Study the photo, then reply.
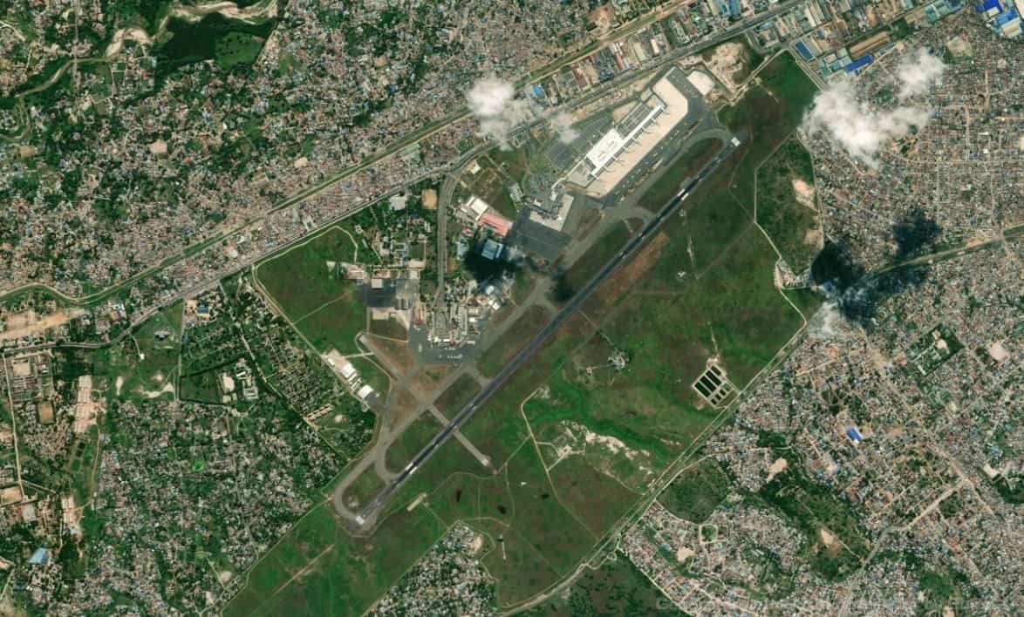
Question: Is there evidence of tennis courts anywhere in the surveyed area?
No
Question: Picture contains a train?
No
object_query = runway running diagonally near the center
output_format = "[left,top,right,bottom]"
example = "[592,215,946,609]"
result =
[352,132,743,529]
